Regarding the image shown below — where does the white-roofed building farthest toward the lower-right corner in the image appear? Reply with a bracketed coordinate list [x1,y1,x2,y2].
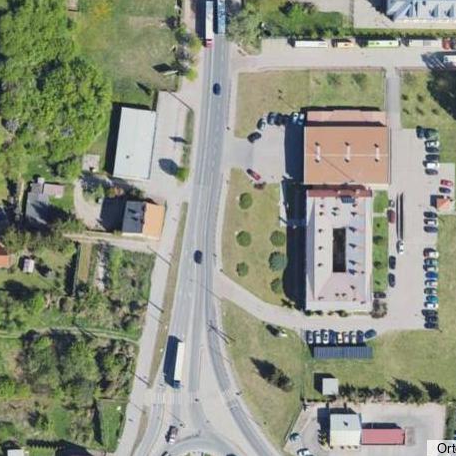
[330,413,361,445]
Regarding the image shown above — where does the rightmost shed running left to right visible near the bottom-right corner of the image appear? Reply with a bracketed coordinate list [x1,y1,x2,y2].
[361,429,404,444]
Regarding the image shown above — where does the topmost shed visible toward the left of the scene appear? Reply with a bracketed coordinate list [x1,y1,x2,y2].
[113,106,156,182]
